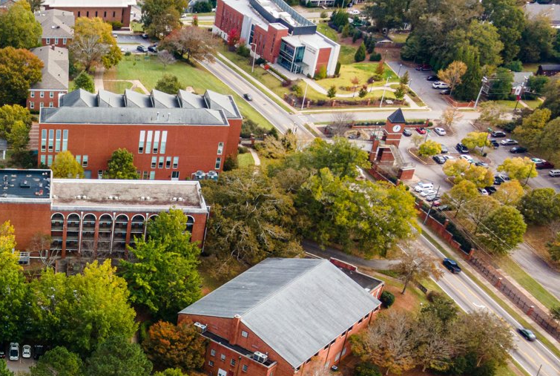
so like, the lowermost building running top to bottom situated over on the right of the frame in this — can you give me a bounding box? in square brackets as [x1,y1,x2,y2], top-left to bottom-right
[381,104,409,166]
